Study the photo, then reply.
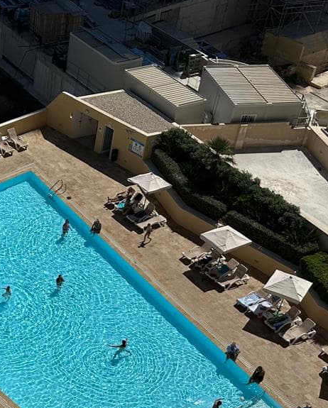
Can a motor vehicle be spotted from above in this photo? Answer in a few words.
No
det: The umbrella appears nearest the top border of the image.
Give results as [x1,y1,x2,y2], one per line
[127,172,173,204]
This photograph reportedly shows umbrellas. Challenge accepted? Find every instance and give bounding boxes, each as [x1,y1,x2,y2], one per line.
[127,172,173,204]
[260,272,312,314]
[198,227,252,271]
